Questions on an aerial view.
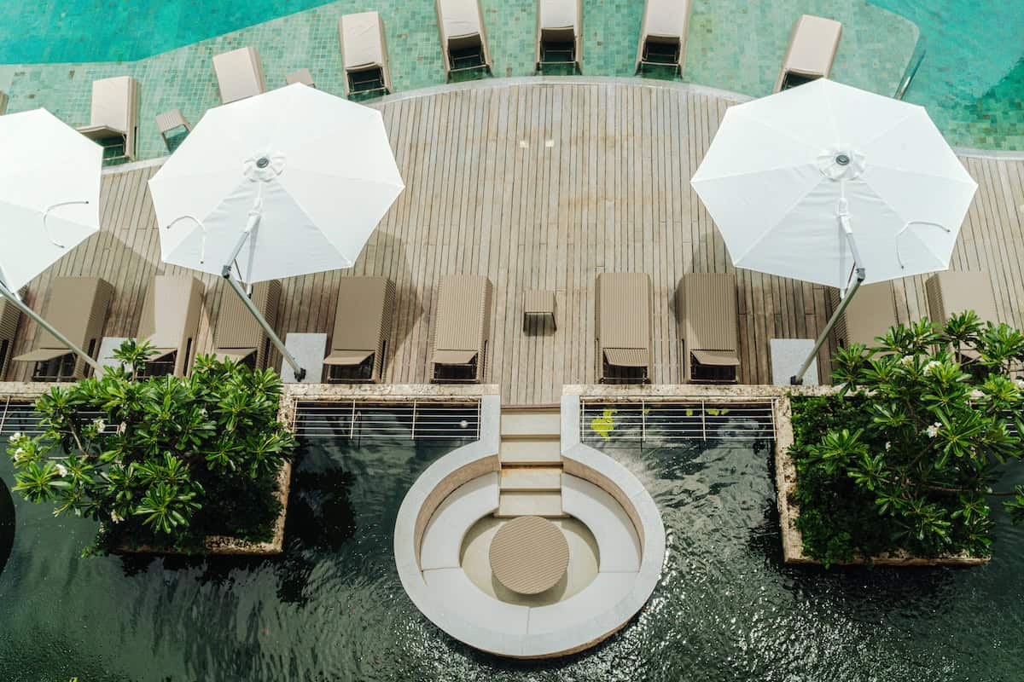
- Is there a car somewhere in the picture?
No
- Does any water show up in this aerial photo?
Yes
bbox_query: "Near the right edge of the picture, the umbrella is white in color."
[693,76,975,384]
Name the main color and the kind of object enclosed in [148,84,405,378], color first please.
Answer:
white umbrella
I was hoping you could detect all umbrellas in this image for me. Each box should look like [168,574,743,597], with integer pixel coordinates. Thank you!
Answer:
[148,84,405,378]
[693,76,975,384]
[0,103,109,375]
